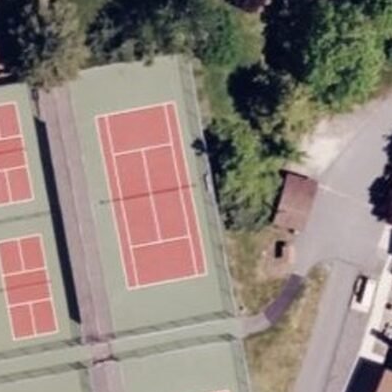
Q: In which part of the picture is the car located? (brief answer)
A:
bottom right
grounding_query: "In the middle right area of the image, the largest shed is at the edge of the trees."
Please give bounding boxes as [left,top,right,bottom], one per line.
[274,174,318,228]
